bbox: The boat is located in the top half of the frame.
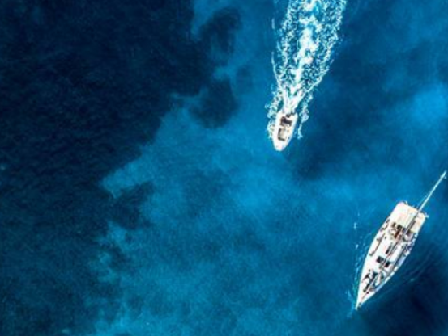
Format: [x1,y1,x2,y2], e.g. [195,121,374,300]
[271,106,295,151]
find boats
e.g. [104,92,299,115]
[271,106,295,151]
[352,164,439,310]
